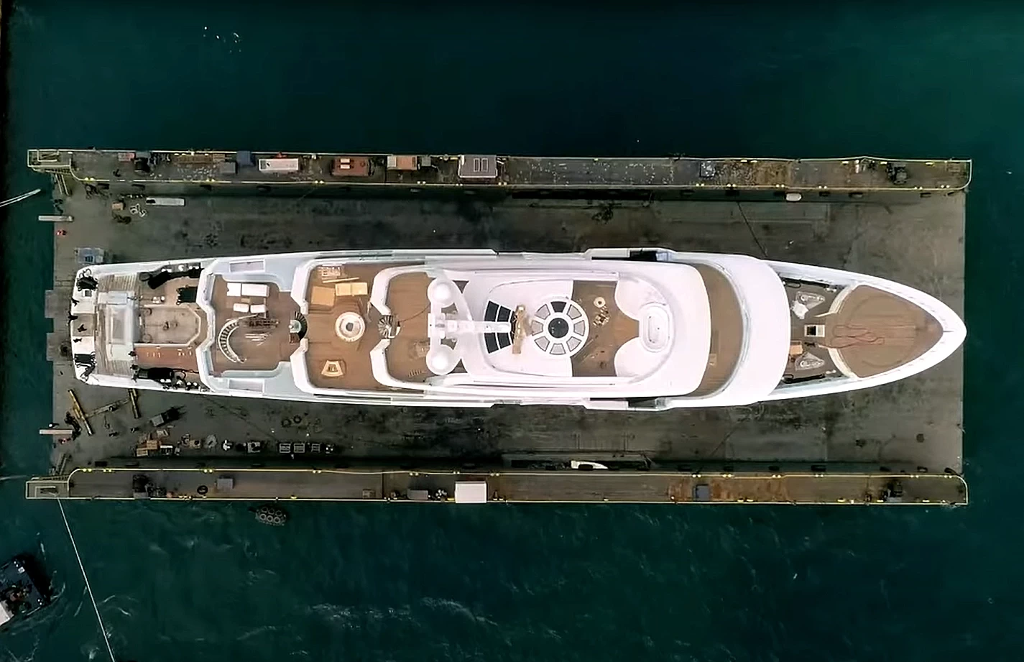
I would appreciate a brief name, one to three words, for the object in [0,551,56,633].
boat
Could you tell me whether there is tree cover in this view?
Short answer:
No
